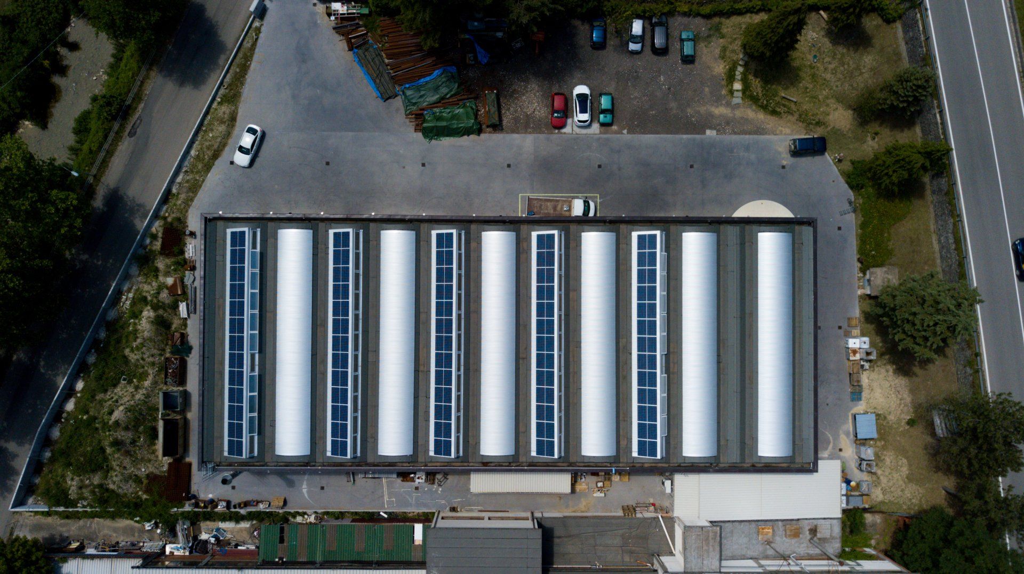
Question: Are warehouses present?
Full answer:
Yes, a warehouse appears in the view.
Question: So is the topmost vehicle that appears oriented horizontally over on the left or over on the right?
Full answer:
The topmost vehicle that appears oriented horizontally is on the right side of the image.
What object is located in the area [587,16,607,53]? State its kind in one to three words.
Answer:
car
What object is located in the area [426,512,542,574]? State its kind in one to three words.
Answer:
building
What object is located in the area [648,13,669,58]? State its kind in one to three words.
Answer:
car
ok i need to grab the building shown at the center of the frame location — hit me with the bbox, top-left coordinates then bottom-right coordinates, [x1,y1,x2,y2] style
[198,214,818,476]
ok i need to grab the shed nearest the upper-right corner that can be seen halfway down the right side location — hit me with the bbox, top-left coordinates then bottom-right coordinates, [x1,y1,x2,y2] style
[861,266,898,296]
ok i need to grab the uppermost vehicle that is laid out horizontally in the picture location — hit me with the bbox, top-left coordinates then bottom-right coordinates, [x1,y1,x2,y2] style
[785,135,826,155]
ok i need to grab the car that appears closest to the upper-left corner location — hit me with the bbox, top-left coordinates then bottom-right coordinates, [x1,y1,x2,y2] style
[232,122,265,166]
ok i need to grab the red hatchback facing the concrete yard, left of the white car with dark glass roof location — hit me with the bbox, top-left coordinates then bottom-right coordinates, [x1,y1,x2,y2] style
[549,91,568,128]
